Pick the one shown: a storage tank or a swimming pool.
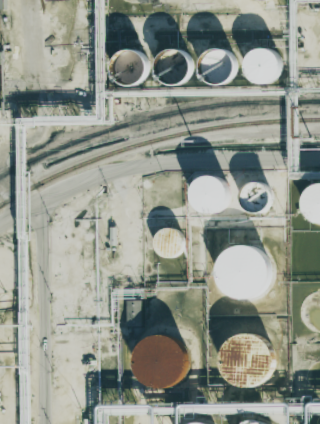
storage tank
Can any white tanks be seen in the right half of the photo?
Yes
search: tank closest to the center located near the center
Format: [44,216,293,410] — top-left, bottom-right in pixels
[152,226,188,262]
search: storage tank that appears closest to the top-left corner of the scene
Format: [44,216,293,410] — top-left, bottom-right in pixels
[108,48,152,89]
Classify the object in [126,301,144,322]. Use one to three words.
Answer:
building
